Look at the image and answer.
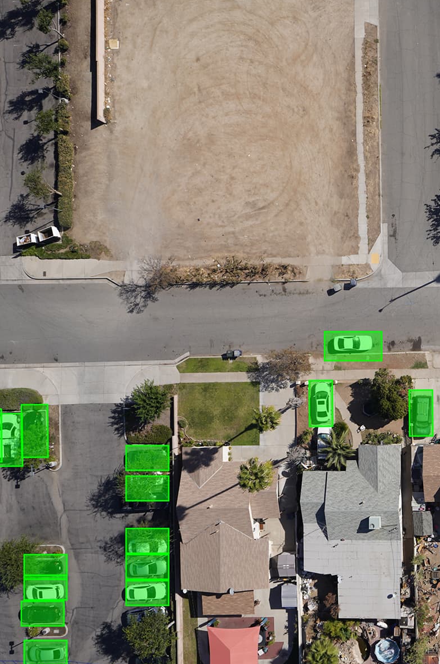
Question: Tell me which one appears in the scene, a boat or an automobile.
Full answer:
This aerial view contains an automobile.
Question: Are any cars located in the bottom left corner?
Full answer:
Yes, there is a car in the bottom left corner.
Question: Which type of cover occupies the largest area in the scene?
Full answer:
What you mostly see from above here is paved ground.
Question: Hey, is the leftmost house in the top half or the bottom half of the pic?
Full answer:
Seen from above, the leftmost house lies in the bottom half of the view.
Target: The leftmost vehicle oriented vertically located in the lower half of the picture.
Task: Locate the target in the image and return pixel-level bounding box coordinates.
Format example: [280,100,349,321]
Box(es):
[0,415,20,458]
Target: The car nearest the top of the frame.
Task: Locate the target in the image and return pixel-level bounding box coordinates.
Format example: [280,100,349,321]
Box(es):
[334,335,372,352]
